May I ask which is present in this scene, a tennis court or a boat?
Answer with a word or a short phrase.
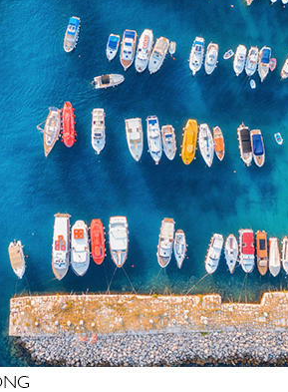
boat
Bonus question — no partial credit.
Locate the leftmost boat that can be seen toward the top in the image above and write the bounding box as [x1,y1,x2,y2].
[35,105,60,156]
